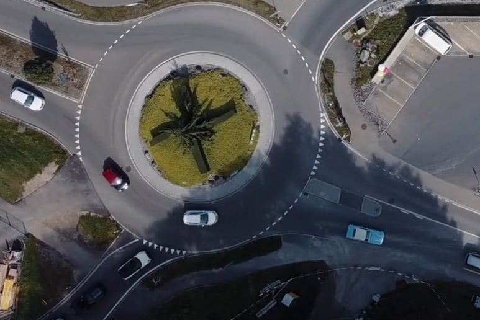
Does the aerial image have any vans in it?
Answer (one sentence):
Yes, a van appears in the view.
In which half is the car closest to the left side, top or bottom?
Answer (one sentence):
It is in the top half that the car closest to the left side appears.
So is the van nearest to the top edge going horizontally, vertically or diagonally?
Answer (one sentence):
From this overhead view, the van nearest to the top edge appears to run diagonally.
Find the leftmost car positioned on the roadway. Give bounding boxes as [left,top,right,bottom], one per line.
[8,86,47,111]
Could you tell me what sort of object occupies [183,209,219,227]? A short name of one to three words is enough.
car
